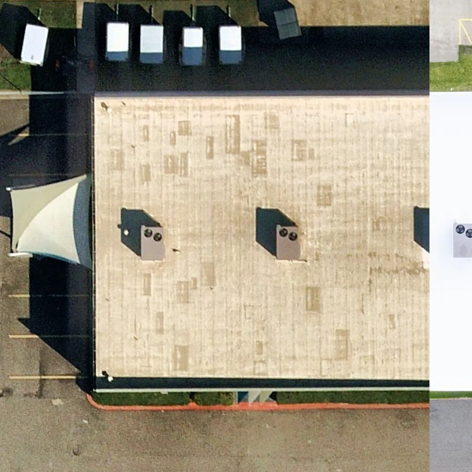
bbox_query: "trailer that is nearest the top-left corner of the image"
[21,11,54,66]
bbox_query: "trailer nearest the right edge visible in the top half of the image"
[218,9,247,65]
